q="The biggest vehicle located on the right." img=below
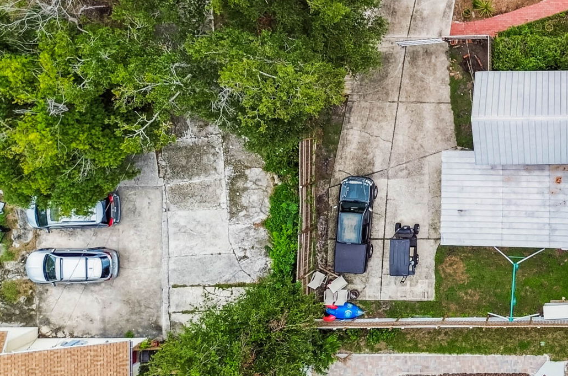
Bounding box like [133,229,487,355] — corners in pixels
[328,171,377,278]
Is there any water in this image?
No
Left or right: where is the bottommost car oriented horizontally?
left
